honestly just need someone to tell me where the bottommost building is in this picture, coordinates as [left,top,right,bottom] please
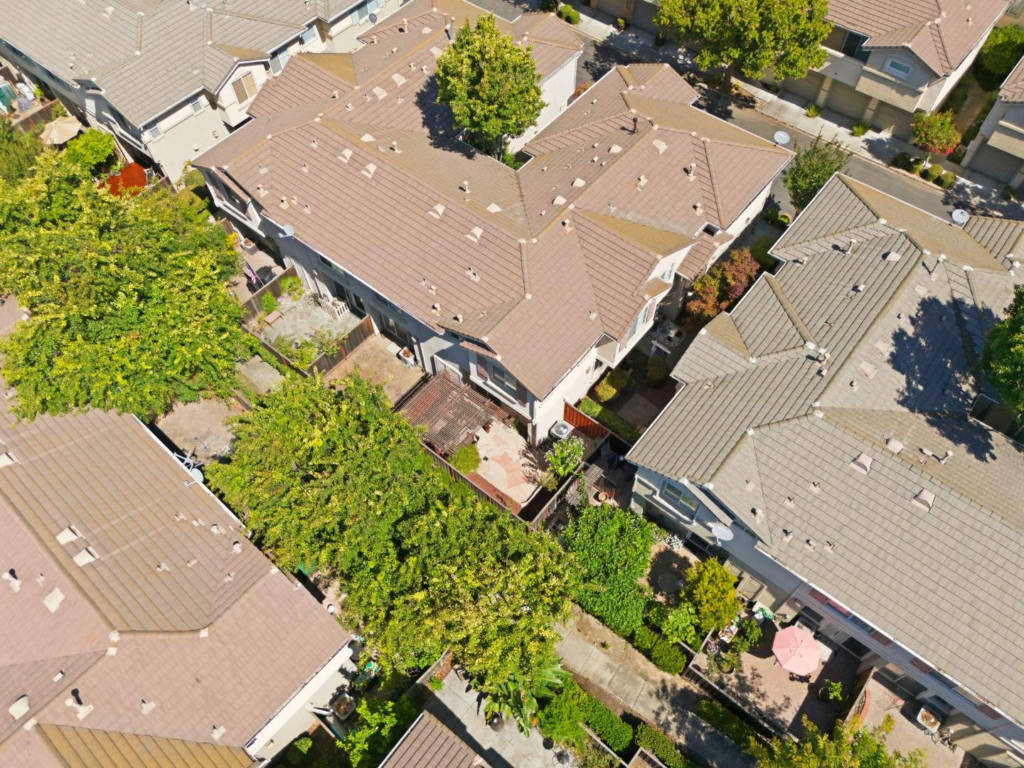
[373,704,499,768]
